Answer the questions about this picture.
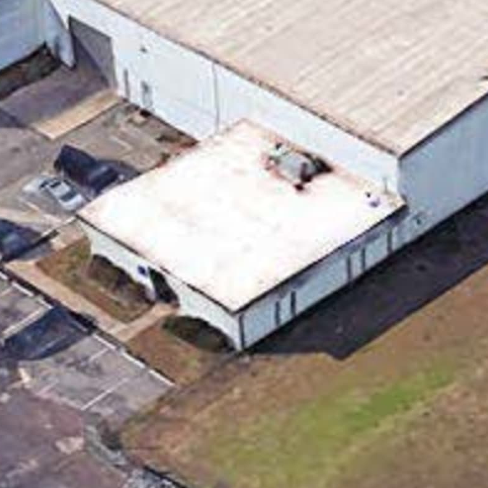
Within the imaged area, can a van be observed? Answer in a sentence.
Yes, the frame does contain a van.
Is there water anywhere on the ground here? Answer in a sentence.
No, the scene doesn't show any water.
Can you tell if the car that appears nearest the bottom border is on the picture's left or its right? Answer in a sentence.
The car that appears nearest the bottom border appears in the left half of the scene.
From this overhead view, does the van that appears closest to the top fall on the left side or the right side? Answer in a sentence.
The van that appears closest to the top appears in the left half of the scene.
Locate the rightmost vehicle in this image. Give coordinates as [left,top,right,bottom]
[56,148,119,198]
